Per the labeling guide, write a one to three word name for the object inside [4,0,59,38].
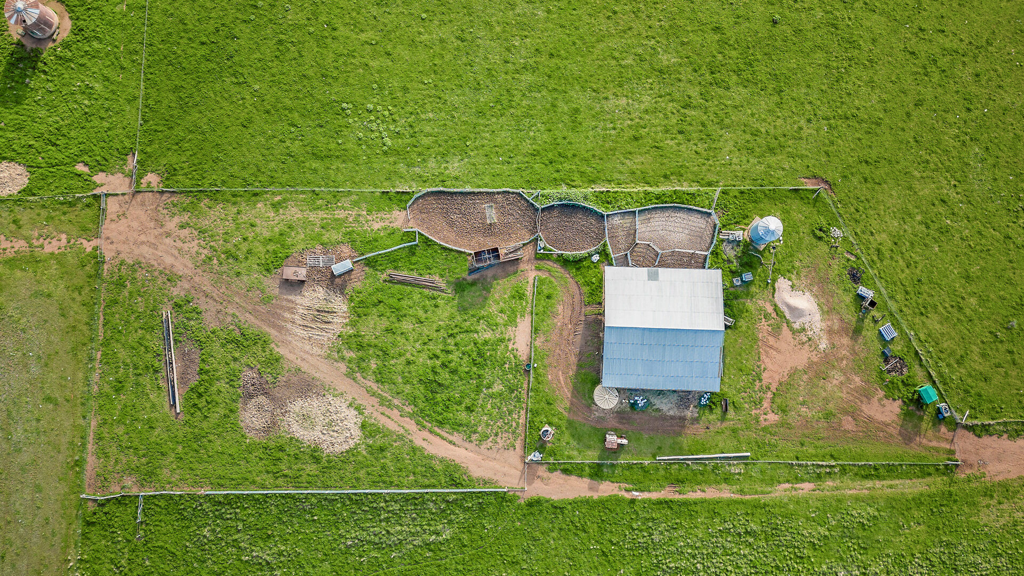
silo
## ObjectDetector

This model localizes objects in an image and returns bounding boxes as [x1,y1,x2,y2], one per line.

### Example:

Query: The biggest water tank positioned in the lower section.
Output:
[592,385,619,410]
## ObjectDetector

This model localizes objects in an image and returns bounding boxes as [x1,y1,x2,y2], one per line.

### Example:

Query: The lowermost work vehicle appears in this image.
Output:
[605,429,628,451]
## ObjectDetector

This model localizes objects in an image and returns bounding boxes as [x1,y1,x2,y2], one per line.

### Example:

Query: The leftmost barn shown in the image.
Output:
[599,266,727,393]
